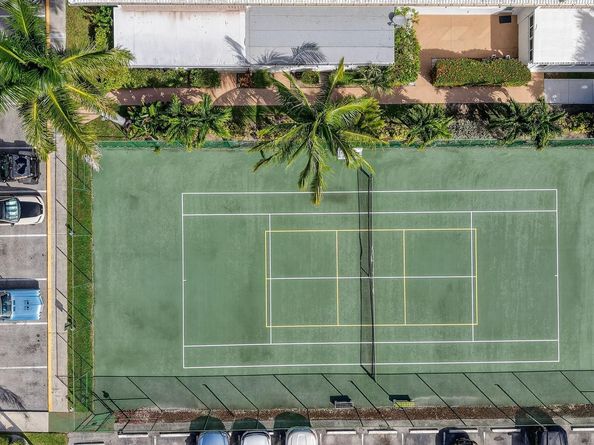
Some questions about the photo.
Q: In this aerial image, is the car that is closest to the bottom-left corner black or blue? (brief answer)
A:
blue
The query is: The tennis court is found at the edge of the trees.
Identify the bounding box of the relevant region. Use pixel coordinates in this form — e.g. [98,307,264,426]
[94,145,594,411]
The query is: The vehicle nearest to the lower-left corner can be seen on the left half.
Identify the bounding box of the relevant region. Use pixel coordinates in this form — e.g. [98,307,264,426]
[0,287,47,325]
